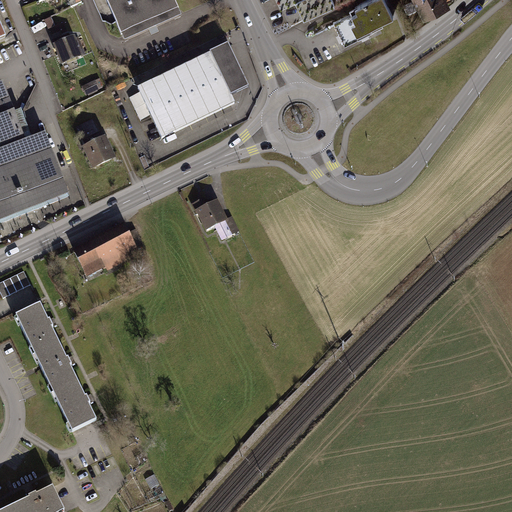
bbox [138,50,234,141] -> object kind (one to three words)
building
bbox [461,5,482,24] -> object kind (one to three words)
vehicle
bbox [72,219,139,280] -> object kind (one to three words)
house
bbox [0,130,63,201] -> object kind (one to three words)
building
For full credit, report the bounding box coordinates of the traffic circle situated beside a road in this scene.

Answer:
[235,53,367,177]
